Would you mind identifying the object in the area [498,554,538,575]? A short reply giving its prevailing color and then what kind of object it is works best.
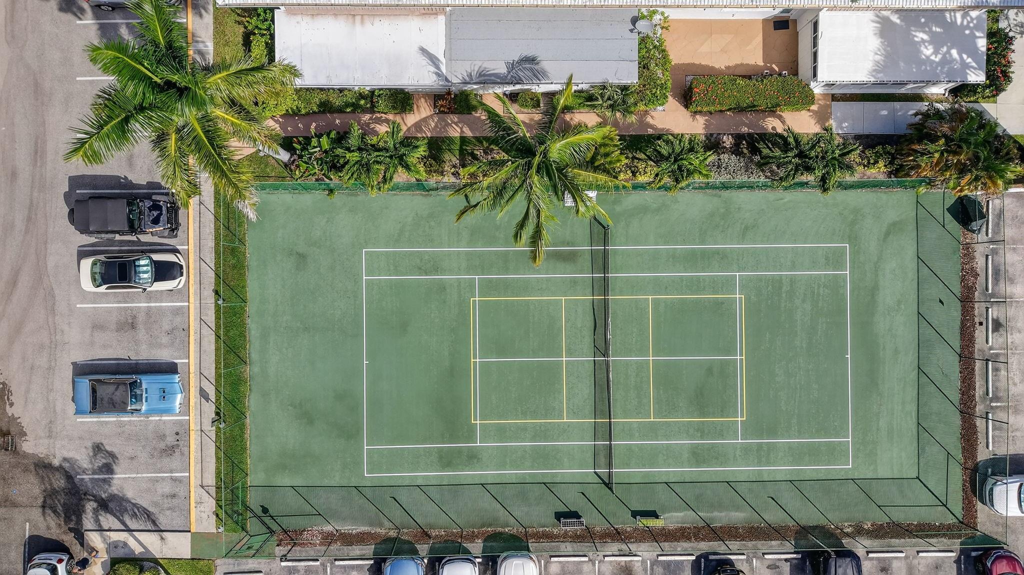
white car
